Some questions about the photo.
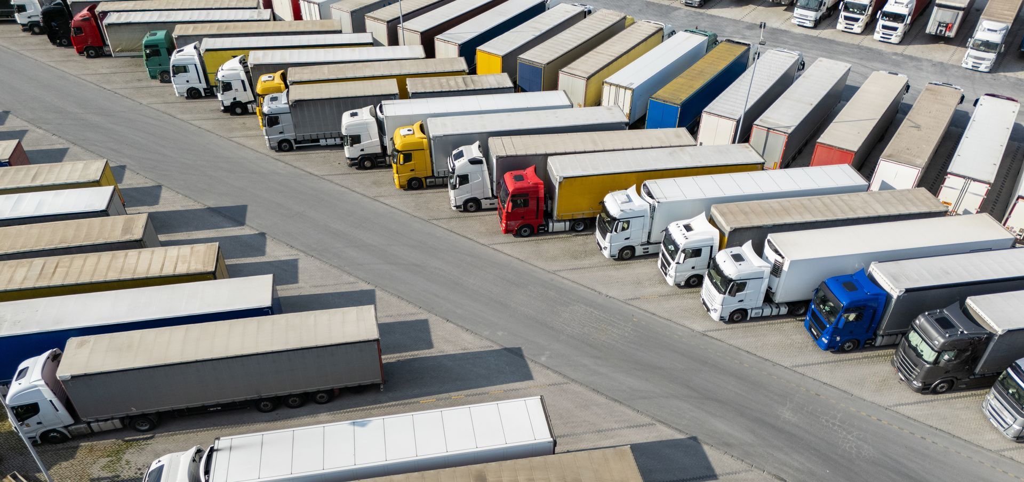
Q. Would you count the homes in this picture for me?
0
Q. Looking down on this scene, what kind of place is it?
parking lot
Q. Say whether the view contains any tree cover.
No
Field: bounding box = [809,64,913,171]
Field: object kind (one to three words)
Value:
truck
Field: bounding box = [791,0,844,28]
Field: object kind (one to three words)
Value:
truck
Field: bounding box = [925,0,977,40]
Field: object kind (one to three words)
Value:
trailer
